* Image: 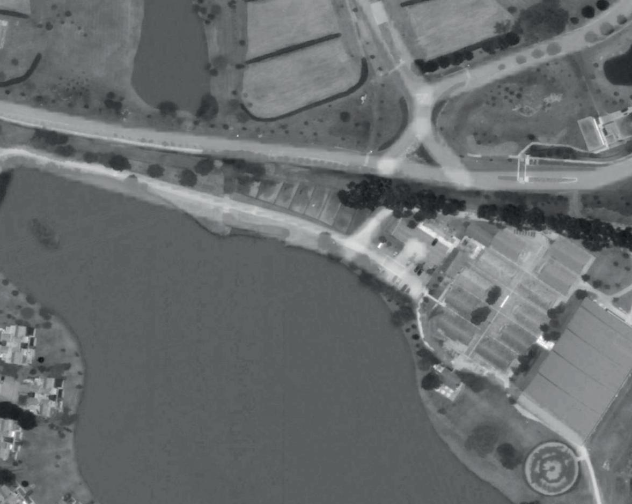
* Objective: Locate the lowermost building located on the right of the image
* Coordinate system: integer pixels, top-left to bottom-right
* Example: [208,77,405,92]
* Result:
[433,363,464,400]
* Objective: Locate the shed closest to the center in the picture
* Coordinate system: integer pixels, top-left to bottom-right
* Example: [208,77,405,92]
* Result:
[416,221,462,255]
